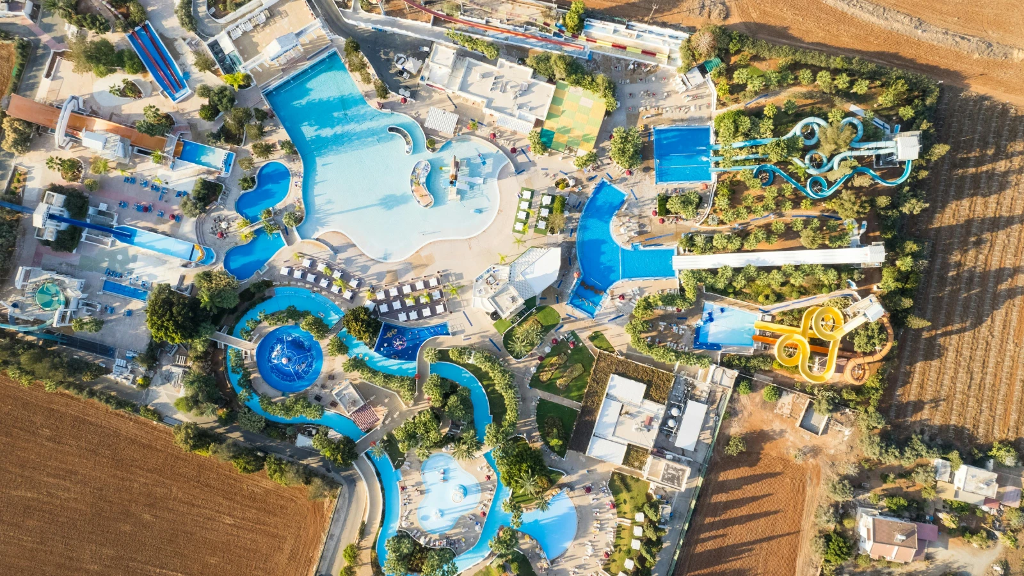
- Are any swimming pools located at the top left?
Yes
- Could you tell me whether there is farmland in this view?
Yes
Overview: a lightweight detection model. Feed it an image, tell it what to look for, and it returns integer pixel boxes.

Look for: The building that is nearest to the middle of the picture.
[473,264,529,323]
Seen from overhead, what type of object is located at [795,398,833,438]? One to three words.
shed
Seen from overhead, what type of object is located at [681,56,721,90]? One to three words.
building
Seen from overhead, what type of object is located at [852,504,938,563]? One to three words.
house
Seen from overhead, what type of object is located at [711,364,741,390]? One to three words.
building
